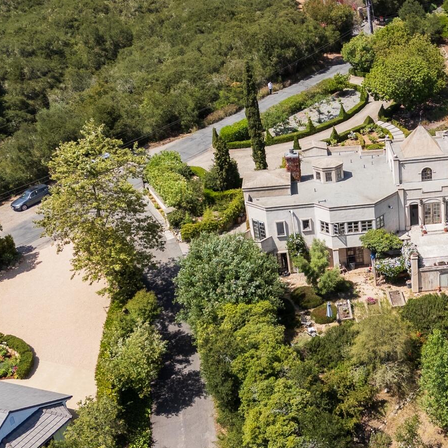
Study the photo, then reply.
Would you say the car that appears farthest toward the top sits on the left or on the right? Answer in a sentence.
The car that appears farthest toward the top sits on the left side.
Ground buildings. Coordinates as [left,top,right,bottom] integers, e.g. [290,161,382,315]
[0,380,80,448]
[244,116,448,293]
